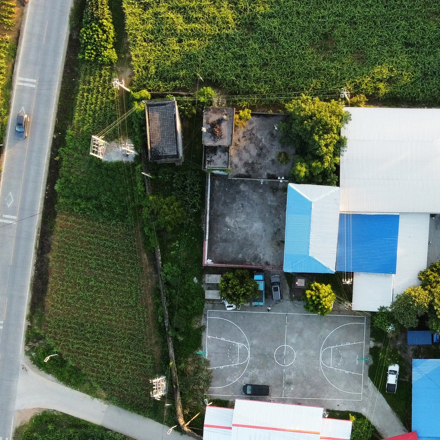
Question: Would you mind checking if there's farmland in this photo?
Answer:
Yes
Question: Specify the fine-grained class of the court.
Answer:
basketball court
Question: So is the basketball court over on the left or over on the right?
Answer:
right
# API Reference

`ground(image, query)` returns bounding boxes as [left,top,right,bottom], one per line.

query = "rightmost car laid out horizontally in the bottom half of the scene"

[242,383,271,396]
